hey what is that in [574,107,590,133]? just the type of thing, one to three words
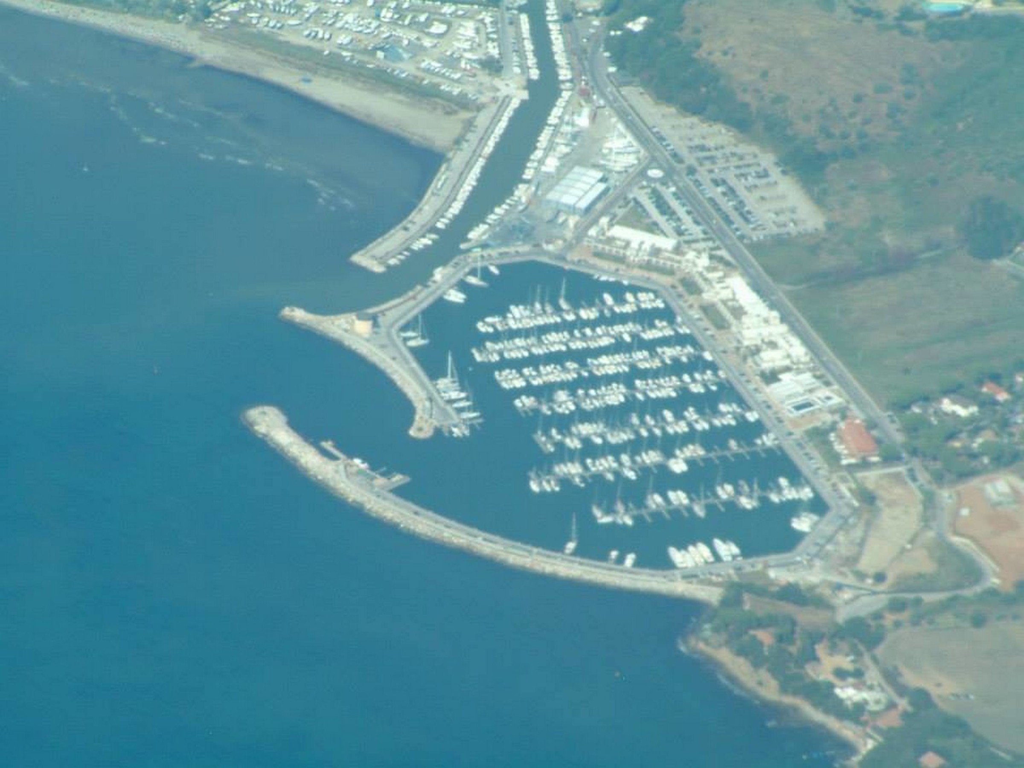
building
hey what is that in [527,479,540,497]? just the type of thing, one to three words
boat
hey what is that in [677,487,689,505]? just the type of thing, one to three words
boat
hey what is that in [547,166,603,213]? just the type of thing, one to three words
shed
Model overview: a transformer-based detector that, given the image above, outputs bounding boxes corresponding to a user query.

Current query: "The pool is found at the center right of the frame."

[789,401,817,413]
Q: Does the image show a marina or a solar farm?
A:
marina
